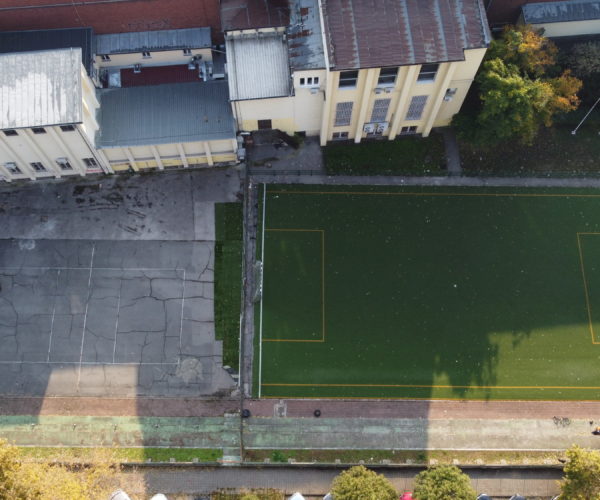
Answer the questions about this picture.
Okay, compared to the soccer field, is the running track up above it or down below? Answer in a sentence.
From this view, the running track can be seen below the soccer field.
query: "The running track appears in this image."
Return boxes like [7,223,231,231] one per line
[0,397,600,449]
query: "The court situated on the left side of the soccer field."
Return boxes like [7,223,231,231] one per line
[0,237,239,398]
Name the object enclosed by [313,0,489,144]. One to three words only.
building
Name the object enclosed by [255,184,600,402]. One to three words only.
soccer field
